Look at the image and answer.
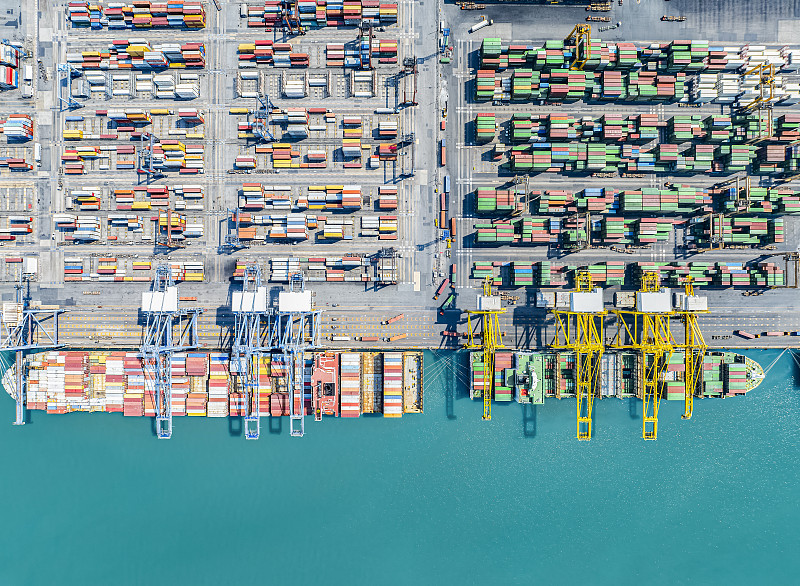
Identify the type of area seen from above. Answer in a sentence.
This looks like a port.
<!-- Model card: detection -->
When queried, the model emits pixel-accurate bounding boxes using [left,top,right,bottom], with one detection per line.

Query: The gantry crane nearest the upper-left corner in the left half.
[55,59,89,106]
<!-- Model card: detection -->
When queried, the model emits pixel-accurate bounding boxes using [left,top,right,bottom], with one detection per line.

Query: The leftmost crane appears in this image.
[0,271,67,426]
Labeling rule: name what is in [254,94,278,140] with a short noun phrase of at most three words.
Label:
container crane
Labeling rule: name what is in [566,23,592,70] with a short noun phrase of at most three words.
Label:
container crane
